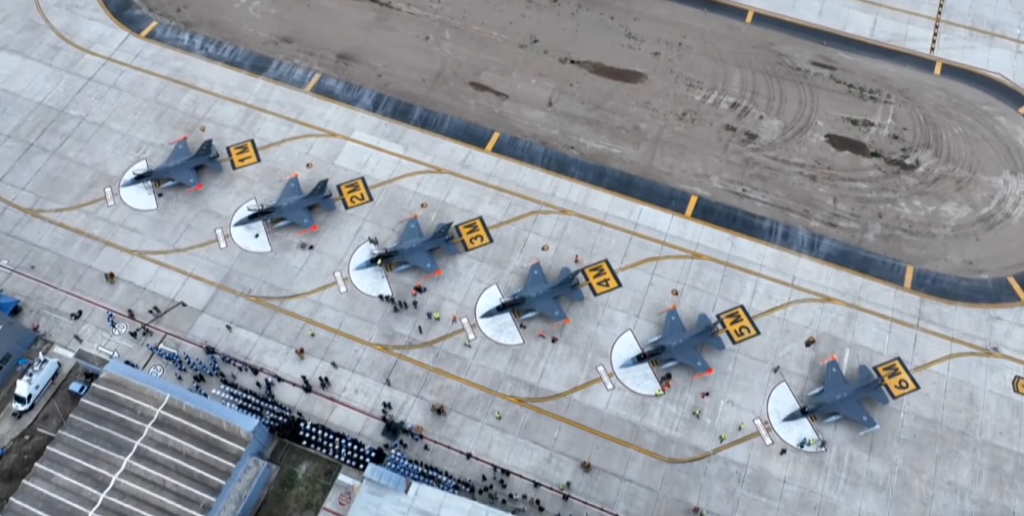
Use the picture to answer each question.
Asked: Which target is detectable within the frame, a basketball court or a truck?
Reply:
truck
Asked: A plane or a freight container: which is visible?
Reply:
plane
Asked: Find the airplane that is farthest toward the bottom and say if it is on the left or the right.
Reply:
right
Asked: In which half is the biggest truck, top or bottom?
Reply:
bottom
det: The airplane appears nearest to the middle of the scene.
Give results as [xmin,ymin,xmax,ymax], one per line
[478,261,582,330]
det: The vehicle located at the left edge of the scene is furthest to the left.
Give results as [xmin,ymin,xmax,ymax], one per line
[8,355,64,417]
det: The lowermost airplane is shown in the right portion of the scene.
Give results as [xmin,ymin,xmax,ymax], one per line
[778,356,894,434]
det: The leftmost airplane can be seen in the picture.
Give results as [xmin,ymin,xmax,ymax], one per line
[120,136,219,193]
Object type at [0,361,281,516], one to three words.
building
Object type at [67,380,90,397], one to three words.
car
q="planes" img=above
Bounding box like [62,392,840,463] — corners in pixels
[778,356,894,434]
[232,174,332,234]
[616,306,724,380]
[352,215,455,280]
[478,261,582,330]
[120,136,219,193]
